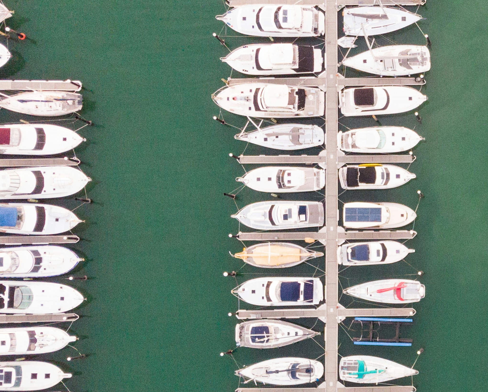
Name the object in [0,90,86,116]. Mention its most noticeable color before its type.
white boat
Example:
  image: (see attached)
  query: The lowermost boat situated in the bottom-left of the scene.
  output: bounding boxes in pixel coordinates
[0,360,77,391]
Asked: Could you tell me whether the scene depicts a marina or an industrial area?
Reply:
marina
